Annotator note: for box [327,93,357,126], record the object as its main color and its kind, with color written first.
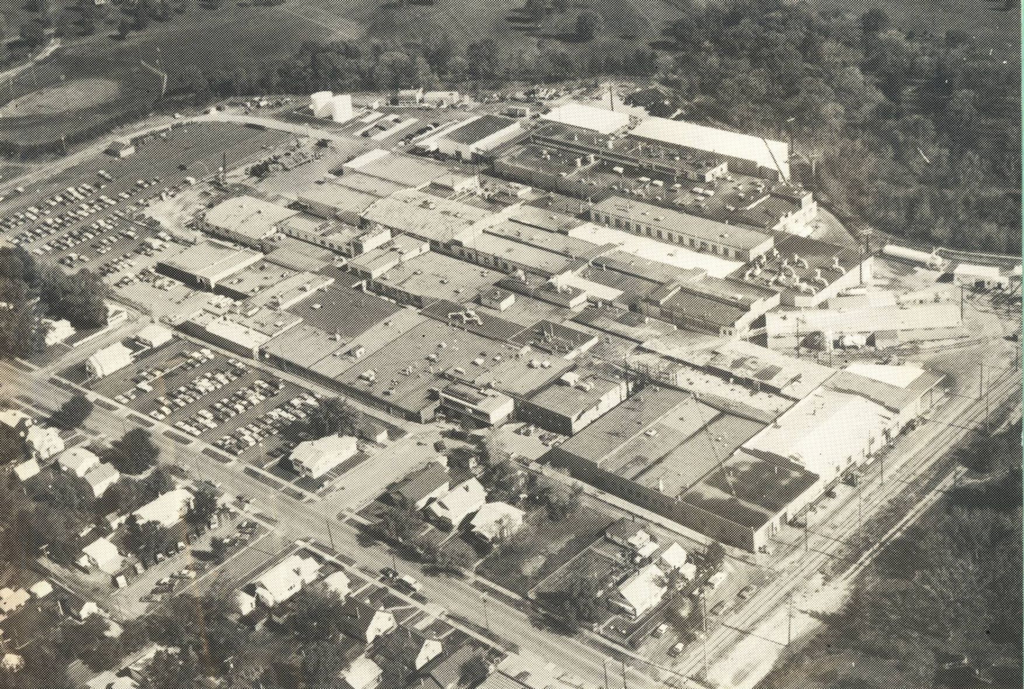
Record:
white water tank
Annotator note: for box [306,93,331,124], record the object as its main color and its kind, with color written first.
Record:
white water tank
